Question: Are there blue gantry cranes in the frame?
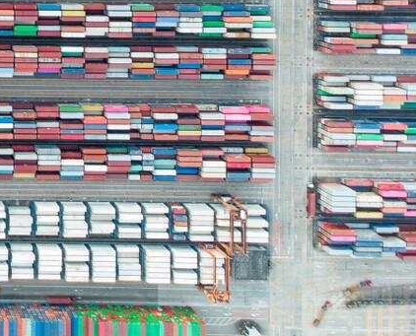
No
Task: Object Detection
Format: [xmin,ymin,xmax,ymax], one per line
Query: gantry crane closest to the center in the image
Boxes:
[209,189,248,255]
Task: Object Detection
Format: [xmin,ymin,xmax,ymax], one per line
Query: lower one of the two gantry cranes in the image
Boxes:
[194,236,232,304]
